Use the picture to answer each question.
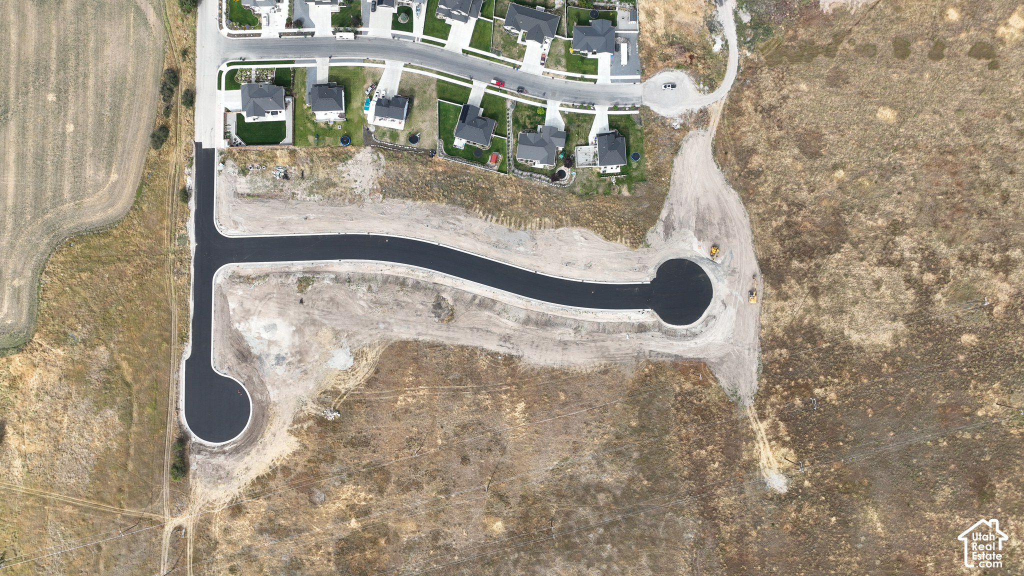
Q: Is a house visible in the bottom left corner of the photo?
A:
No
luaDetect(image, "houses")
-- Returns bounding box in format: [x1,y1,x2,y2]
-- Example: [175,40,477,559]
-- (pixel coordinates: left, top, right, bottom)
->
[374,95,409,121]
[304,0,340,7]
[503,3,560,46]
[310,80,345,114]
[597,130,626,166]
[573,16,615,57]
[516,125,567,165]
[377,0,413,9]
[454,101,496,147]
[435,0,481,24]
[241,0,276,8]
[241,81,285,117]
